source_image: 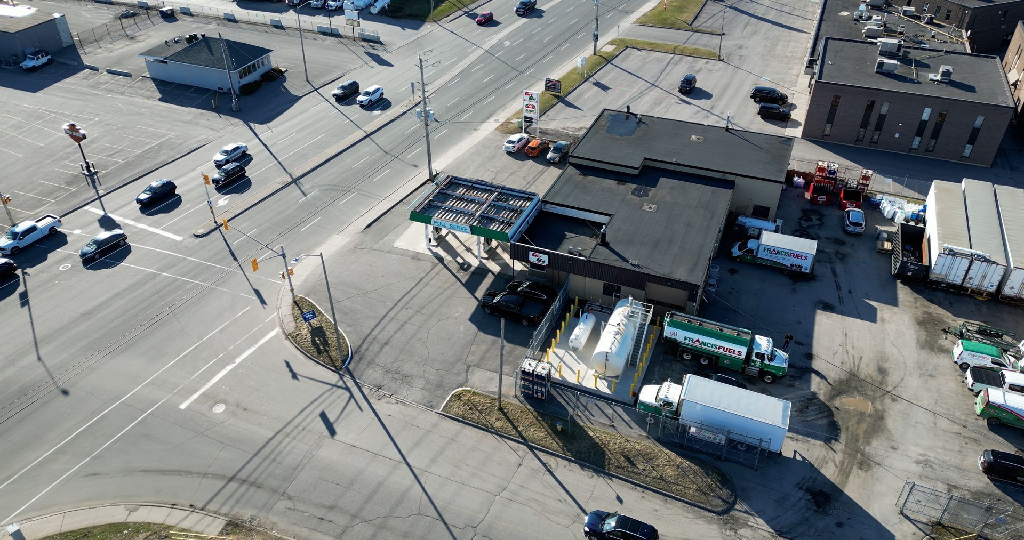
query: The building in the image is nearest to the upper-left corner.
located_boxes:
[0,3,75,62]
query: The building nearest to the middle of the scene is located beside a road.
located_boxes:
[509,107,795,325]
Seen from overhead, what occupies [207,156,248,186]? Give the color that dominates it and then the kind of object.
black car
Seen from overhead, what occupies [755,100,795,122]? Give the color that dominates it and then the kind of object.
black car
